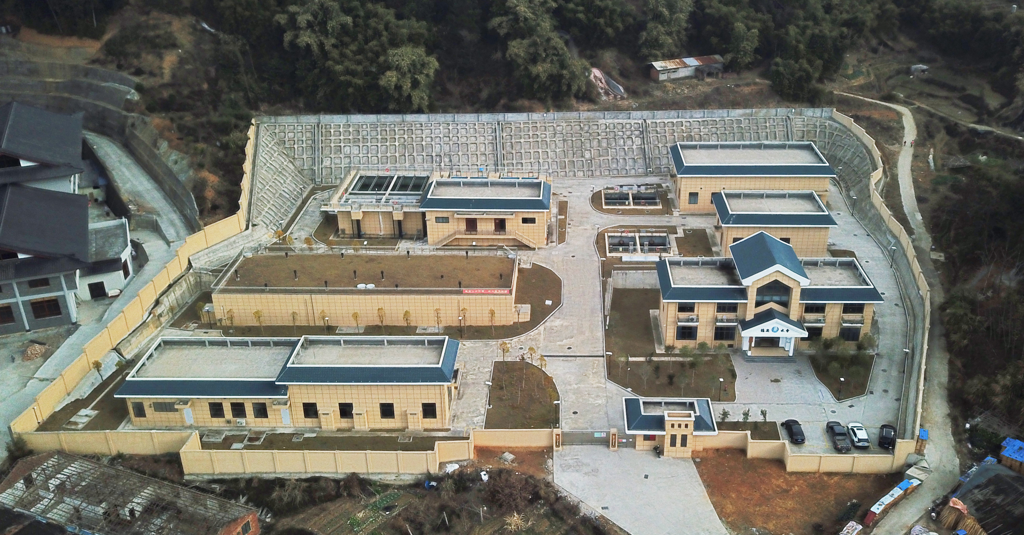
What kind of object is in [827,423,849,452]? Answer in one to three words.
truck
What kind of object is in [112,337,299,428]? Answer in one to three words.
building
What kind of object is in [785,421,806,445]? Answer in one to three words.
car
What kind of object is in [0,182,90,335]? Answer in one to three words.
house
